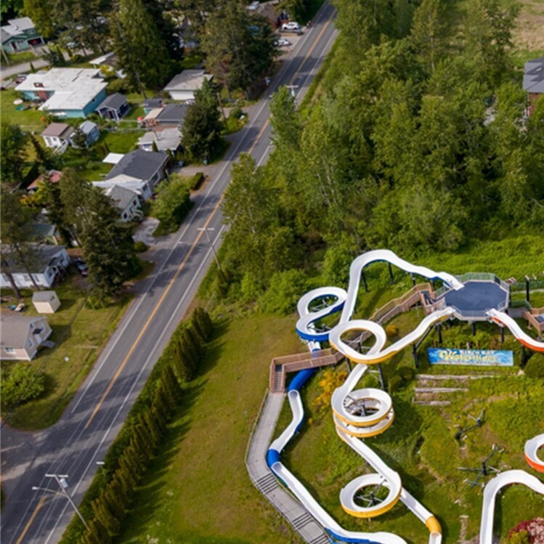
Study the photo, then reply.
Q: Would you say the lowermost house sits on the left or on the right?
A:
left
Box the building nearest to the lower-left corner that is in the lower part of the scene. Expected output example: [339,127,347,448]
[0,316,50,360]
